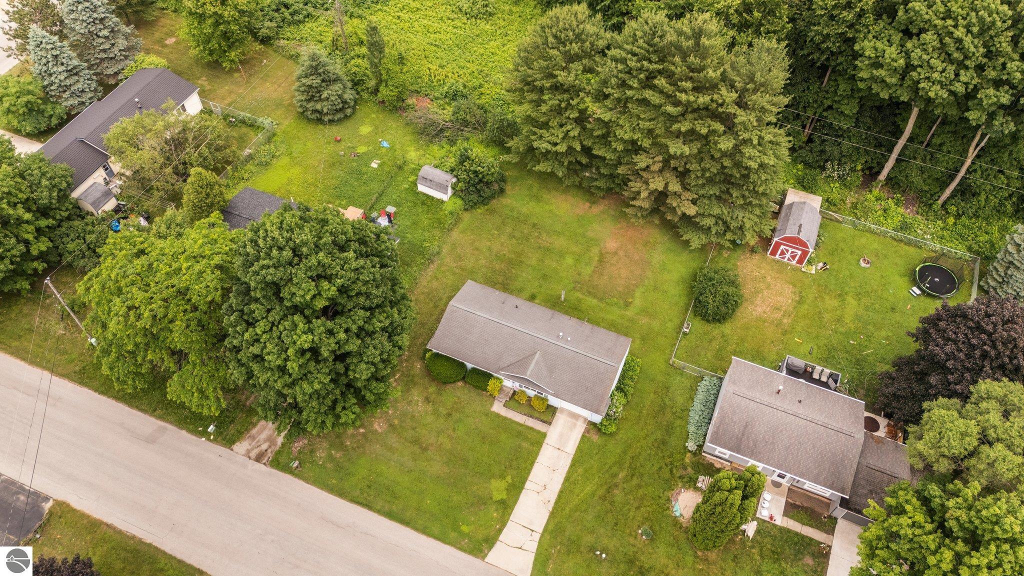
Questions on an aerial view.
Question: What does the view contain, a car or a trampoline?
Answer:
trampoline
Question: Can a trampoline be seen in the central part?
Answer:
No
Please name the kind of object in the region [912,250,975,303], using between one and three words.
trampoline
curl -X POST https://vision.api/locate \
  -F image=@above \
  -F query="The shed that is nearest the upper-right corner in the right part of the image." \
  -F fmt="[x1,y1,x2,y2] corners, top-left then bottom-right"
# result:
[768,202,820,265]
